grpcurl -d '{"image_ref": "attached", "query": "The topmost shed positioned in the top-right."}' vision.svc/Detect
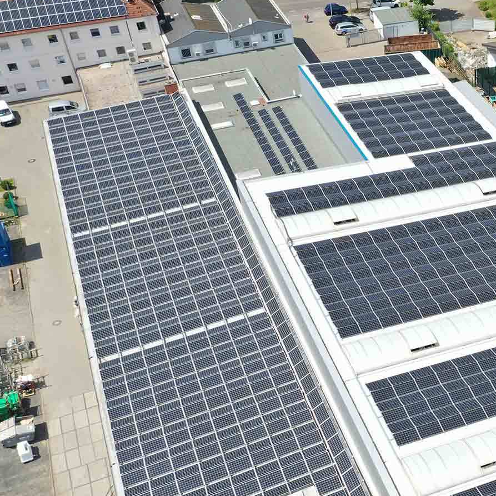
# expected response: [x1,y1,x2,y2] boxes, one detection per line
[372,2,419,39]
